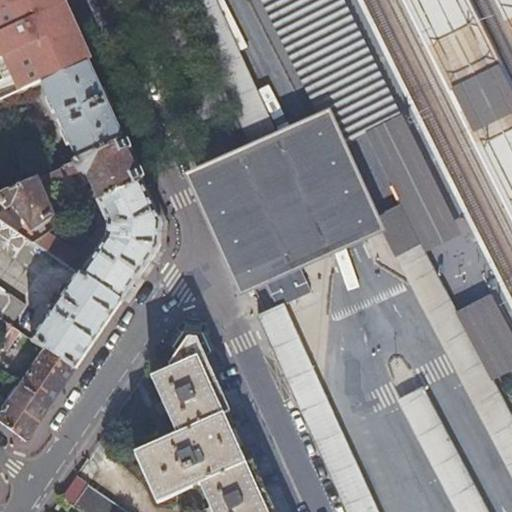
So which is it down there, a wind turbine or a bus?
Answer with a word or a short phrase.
bus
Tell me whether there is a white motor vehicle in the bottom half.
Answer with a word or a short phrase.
Yes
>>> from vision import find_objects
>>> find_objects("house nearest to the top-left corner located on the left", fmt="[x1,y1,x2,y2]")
[0,0,92,89]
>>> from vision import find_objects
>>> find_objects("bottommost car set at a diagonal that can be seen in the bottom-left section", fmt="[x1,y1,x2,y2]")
[50,409,68,430]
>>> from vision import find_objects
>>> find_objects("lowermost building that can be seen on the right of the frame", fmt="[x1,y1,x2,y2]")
[456,294,512,380]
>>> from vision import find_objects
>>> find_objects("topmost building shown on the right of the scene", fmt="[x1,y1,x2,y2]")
[260,0,401,139]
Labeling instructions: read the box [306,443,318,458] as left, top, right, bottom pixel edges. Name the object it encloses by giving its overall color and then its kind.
white vehicle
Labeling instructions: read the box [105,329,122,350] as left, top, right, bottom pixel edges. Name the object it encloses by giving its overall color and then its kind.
white car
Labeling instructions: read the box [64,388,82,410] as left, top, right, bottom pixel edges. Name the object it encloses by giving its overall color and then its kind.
white car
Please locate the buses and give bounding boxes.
[258,83,286,122]
[218,0,250,50]
[334,249,361,292]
